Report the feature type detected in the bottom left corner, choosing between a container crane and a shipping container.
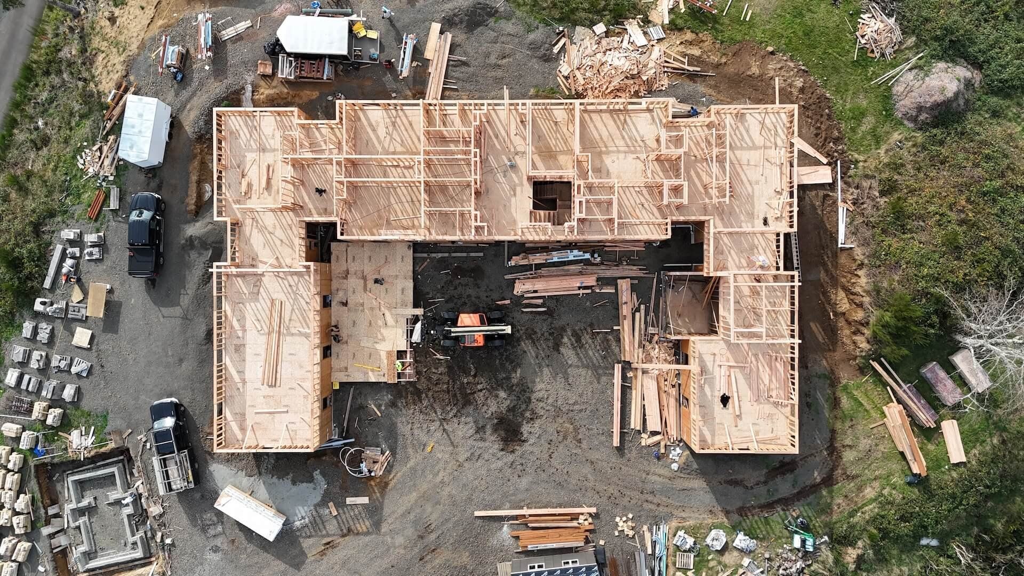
shipping container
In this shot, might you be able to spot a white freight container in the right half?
No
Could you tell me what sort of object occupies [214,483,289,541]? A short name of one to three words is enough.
shipping container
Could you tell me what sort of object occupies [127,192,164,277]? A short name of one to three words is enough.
truck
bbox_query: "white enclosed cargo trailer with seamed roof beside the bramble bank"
[120,93,169,176]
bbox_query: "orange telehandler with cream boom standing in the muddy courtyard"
[409,313,511,347]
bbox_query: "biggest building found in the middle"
[208,78,801,453]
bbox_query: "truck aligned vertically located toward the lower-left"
[155,407,200,495]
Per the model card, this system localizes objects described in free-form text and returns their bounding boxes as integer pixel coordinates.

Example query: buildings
[509,551,605,576]
[208,78,801,453]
